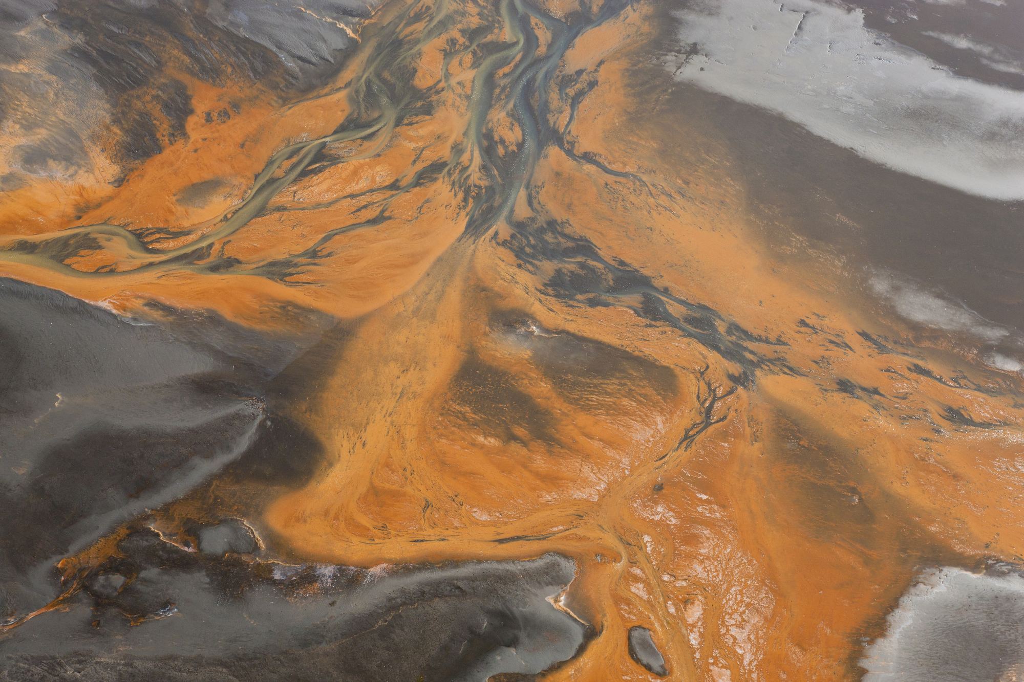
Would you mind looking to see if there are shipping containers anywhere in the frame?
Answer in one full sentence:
No, the frame has no shipping container in it.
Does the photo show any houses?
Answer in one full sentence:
No, there's no house here.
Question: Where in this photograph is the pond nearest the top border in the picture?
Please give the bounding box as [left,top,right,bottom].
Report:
[198,518,262,555]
